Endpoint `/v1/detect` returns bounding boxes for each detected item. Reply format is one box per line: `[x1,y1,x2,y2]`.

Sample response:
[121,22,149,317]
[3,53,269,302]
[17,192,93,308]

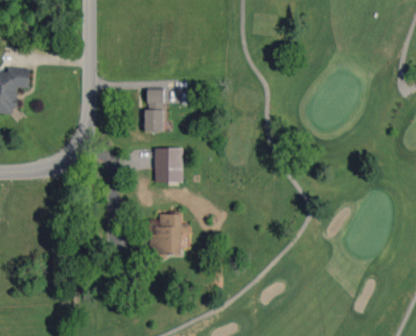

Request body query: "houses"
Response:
[149,214,192,258]
[144,88,168,134]
[0,68,31,113]
[155,146,184,187]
